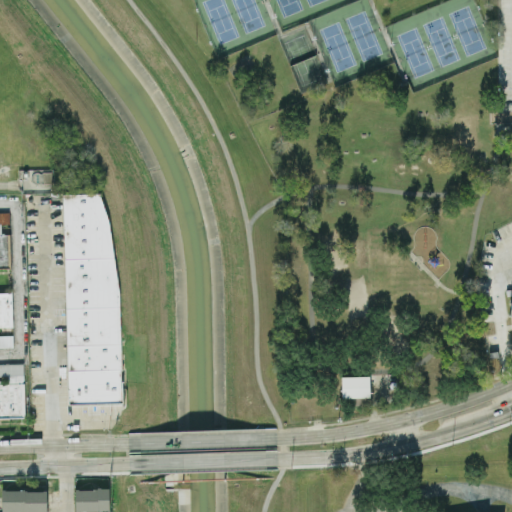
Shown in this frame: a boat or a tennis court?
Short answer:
tennis court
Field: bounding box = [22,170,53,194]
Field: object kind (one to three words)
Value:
building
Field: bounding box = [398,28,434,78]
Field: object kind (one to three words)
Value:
tennis court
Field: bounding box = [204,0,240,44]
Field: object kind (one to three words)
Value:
tennis court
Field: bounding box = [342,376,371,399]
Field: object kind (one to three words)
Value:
house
